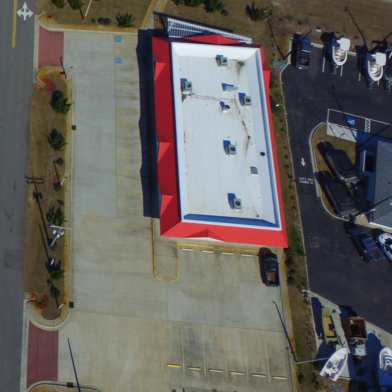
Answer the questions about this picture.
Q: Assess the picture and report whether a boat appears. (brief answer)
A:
Yes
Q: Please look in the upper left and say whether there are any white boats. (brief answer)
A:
No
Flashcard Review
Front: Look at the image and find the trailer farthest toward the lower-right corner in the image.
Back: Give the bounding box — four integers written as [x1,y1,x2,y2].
[344,315,380,347]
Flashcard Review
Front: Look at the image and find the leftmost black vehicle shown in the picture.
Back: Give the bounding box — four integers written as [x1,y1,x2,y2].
[262,251,281,289]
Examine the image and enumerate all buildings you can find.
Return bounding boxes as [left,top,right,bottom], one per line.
[358,140,392,237]
[151,32,288,247]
